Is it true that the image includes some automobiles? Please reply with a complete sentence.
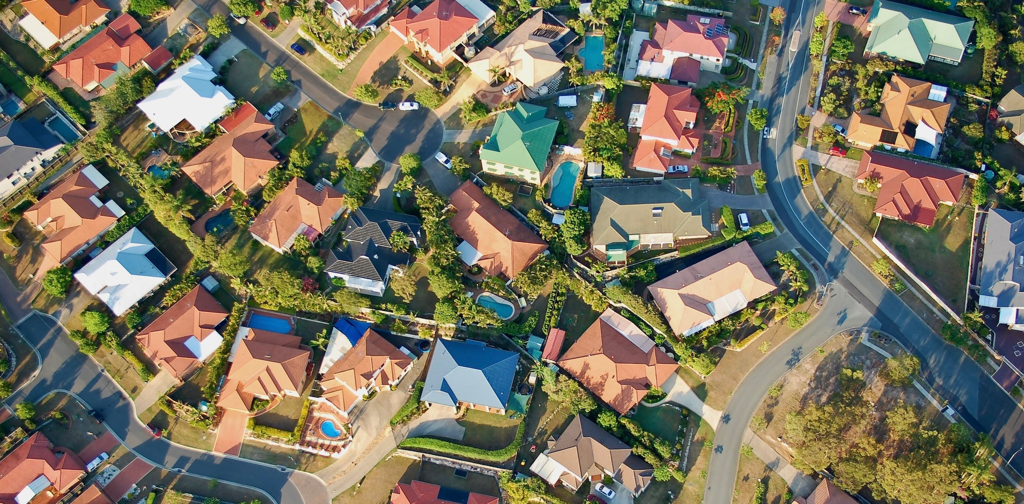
Yes, the photo shows an automobile.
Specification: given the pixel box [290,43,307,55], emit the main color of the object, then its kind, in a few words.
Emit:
blue vehicle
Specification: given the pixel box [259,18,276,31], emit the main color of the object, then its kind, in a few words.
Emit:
red vehicle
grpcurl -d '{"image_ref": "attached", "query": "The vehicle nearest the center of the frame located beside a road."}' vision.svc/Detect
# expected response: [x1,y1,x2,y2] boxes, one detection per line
[433,150,452,169]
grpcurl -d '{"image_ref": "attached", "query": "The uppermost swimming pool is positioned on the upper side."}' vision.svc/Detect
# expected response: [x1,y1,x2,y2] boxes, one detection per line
[576,34,606,72]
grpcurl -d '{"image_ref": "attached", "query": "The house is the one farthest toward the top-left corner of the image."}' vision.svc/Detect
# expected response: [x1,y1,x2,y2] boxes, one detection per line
[19,0,112,51]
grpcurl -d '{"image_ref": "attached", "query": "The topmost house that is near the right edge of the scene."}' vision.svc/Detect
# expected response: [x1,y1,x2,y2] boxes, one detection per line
[863,0,974,69]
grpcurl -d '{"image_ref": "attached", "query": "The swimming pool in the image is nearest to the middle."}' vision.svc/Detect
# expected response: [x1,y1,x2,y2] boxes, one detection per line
[474,291,518,323]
